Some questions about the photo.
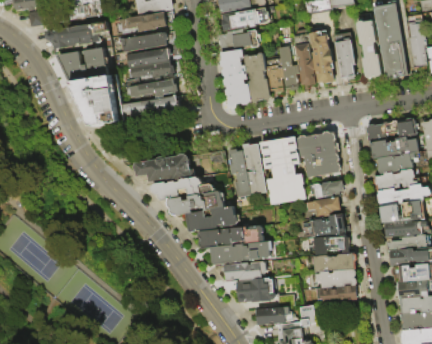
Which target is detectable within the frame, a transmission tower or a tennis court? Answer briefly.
tennis court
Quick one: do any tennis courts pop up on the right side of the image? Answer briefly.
No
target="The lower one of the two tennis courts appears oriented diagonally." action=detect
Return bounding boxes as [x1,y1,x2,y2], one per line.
[57,270,130,344]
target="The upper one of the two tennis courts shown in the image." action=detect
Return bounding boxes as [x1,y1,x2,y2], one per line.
[0,216,77,296]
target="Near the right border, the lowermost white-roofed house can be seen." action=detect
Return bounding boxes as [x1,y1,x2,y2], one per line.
[401,328,432,344]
